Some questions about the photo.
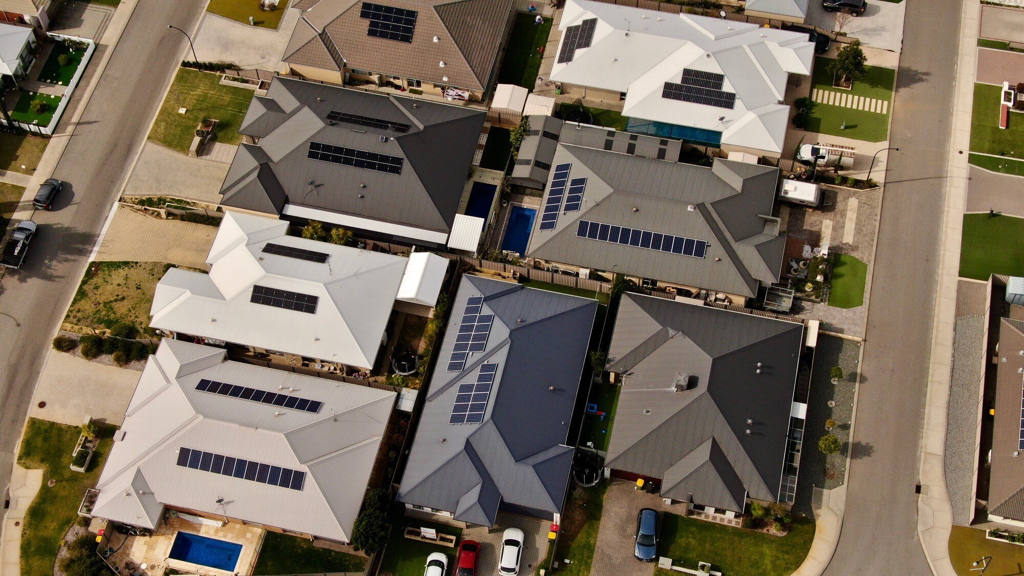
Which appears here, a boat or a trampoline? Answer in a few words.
trampoline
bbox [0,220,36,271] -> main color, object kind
black truck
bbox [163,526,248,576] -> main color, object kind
blue swimming pool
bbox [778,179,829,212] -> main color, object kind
white camper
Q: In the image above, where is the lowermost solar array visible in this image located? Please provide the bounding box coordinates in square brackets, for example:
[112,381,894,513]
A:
[177,447,306,490]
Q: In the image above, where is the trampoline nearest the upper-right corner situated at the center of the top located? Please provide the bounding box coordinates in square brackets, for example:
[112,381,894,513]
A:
[565,90,593,126]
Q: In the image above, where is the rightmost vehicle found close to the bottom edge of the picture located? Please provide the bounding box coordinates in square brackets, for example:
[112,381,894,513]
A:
[633,507,660,564]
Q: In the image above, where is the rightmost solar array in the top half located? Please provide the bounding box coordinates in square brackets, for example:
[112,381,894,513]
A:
[662,69,736,109]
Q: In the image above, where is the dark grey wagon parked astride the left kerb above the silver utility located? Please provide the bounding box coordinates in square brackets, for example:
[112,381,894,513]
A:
[33,178,62,210]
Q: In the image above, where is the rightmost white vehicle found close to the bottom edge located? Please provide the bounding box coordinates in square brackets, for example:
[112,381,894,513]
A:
[498,527,526,576]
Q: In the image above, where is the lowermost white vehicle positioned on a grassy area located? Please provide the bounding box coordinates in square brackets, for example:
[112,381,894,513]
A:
[421,551,448,576]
